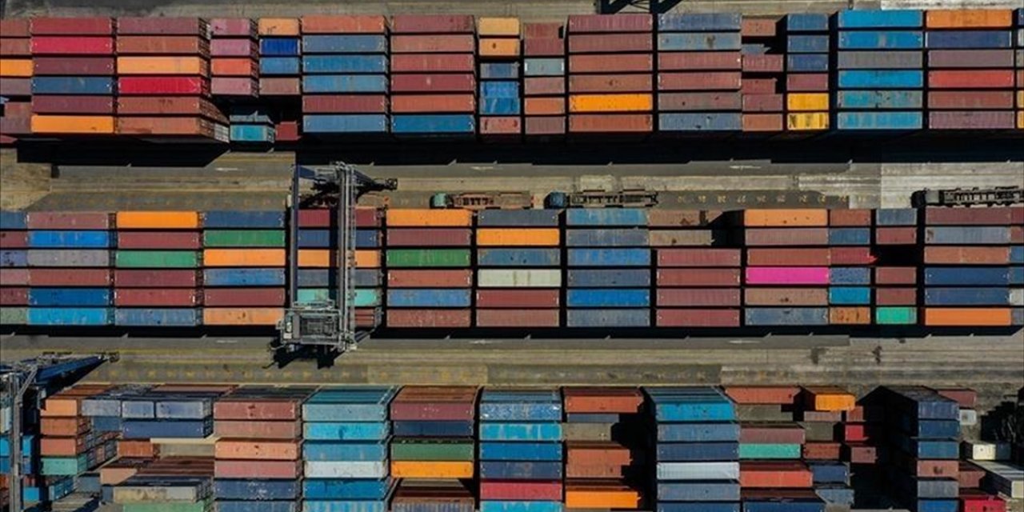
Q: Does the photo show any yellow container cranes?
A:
No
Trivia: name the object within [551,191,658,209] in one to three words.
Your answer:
vehicle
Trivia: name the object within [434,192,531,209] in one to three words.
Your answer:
vehicle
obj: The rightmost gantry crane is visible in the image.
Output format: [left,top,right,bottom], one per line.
[273,158,397,360]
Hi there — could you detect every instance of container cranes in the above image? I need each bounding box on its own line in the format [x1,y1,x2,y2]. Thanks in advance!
[273,158,397,360]
[0,350,120,512]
